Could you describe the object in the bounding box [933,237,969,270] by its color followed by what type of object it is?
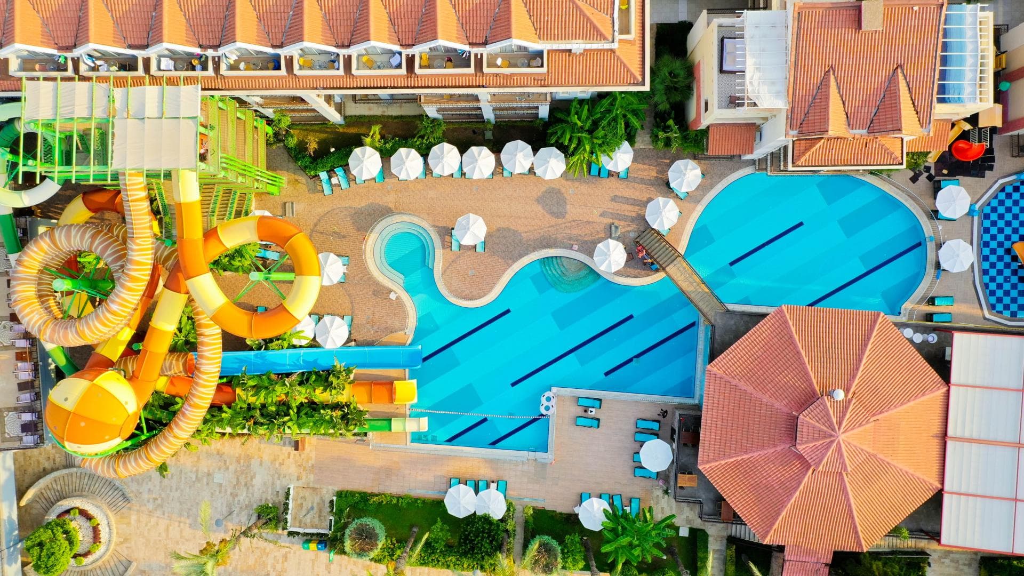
white umbrella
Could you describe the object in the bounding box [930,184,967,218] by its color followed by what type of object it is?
white umbrella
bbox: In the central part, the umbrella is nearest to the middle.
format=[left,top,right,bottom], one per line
[454,215,487,248]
